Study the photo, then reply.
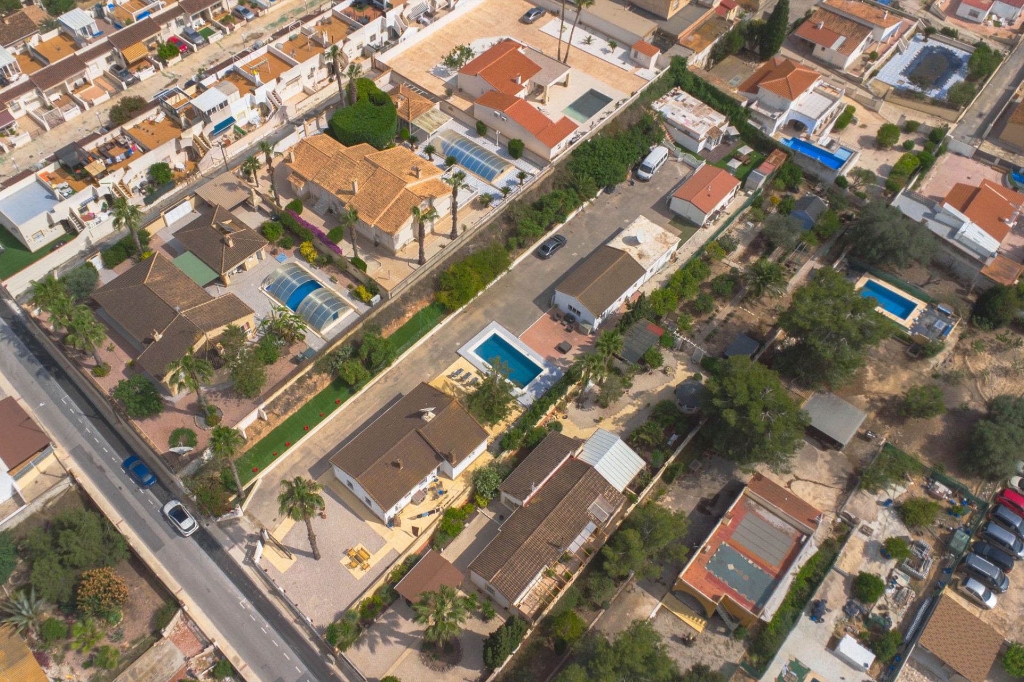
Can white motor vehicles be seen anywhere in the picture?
Yes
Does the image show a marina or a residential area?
residential area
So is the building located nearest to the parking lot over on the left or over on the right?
right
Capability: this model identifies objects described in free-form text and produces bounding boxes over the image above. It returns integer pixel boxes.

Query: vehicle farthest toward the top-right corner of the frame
[638,139,669,175]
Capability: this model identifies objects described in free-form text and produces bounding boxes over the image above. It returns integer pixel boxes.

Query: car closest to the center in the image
[537,230,568,258]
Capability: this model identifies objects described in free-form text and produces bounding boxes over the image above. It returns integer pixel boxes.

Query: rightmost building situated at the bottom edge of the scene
[909,594,1009,682]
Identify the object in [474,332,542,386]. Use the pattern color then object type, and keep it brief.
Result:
blue swimming pool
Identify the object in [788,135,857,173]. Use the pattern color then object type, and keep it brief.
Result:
blue swimming pool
